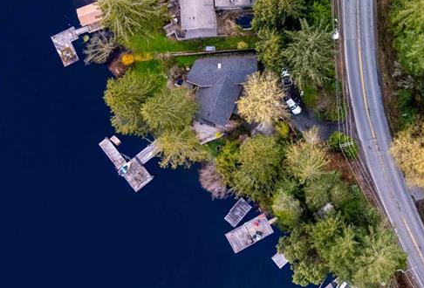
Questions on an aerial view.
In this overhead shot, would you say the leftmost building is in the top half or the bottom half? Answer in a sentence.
The top half of the photo is where the leftmost building is.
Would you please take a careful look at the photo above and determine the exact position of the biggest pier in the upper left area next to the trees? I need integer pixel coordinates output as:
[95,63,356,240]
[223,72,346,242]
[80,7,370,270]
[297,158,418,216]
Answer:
[49,17,111,67]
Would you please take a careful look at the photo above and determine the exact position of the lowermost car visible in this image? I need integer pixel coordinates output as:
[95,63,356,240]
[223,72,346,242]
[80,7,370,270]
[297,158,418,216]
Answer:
[284,95,302,116]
